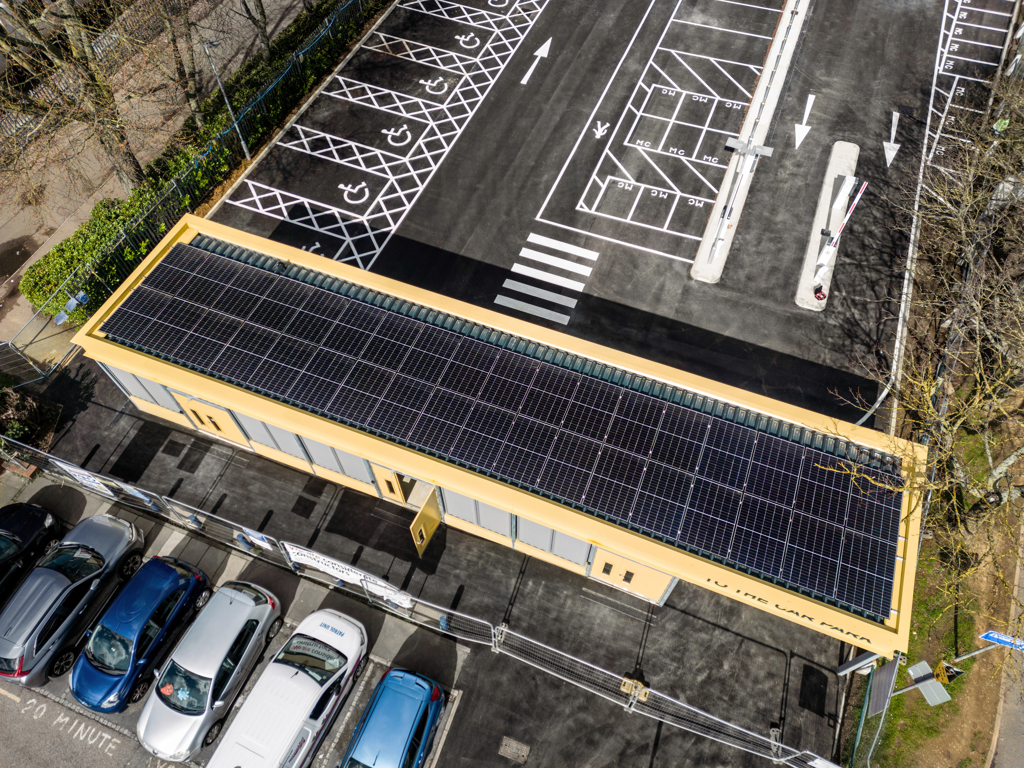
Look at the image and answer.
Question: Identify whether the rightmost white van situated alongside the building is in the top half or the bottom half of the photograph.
bottom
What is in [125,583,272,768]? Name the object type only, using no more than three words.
car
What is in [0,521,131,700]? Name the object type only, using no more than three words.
car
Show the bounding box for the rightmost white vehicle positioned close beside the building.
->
[214,609,365,768]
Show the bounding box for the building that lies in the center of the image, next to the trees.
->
[71,213,927,676]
